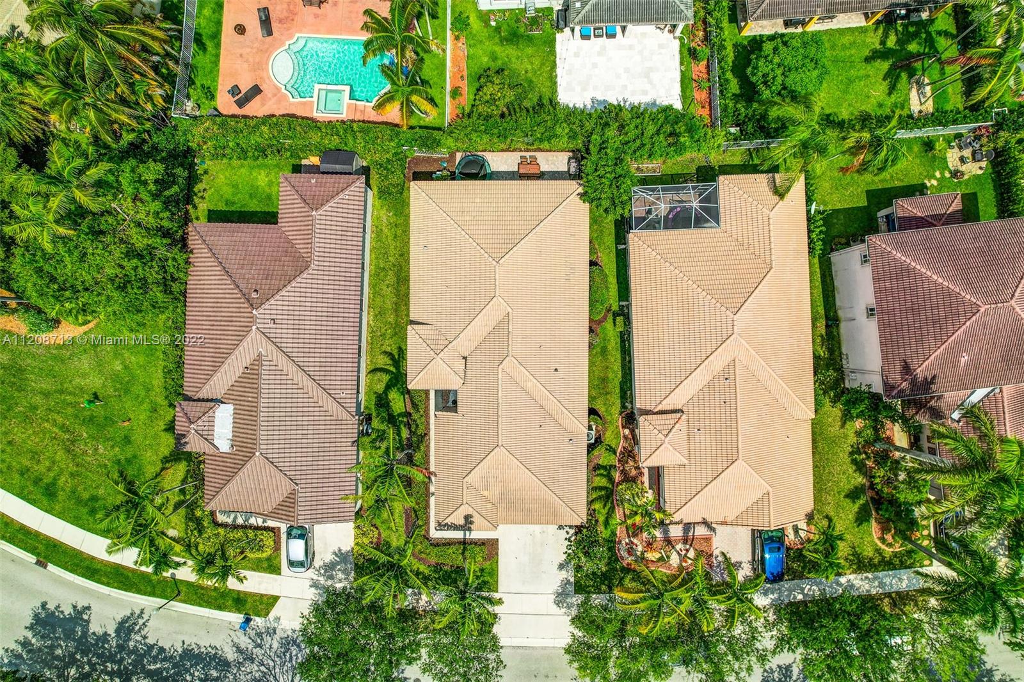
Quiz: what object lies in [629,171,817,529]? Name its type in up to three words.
house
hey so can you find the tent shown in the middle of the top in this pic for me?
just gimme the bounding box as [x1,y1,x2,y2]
[458,158,490,181]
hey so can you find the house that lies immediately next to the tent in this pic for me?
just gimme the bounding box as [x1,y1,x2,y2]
[406,179,590,533]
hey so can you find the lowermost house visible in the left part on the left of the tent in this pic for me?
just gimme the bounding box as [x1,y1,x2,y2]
[173,172,366,527]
